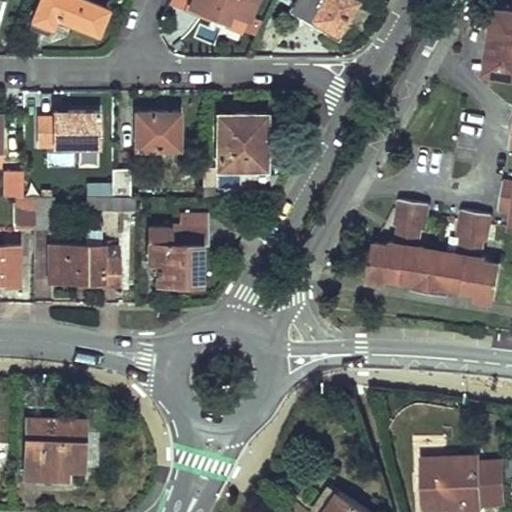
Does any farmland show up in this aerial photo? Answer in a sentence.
No, farmland can't be seen anywhere here.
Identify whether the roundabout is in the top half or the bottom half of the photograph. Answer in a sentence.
It is in the bottom half that the roundabout appears.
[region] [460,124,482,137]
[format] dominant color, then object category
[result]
white vehicle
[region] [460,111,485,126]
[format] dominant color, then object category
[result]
white vehicle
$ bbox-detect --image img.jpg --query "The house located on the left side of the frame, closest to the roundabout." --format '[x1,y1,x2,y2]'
[148,212,210,294]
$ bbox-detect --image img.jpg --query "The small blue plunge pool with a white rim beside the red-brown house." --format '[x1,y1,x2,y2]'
[194,24,218,45]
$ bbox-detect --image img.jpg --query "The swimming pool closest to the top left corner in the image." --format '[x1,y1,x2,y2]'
[79,153,100,168]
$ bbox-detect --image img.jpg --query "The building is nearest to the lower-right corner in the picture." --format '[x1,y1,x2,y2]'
[420,456,505,512]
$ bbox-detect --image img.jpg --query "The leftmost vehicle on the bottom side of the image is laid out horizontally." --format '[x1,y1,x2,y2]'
[74,352,104,366]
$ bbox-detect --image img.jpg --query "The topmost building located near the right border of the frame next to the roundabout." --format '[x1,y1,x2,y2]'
[366,243,501,311]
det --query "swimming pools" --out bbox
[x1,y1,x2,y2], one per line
[219,178,240,189]
[194,24,218,45]
[79,153,100,168]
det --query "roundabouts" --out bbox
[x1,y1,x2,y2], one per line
[146,294,304,457]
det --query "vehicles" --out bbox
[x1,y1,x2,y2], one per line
[280,200,294,219]
[201,412,223,423]
[74,352,104,366]
[460,111,485,126]
[8,130,18,153]
[126,10,138,30]
[344,356,365,366]
[469,26,480,44]
[189,74,212,84]
[250,74,272,84]
[430,151,442,174]
[40,96,50,114]
[6,74,26,84]
[330,136,344,148]
[126,367,147,382]
[161,73,181,83]
[496,150,507,170]
[121,122,132,148]
[417,149,428,172]
[460,124,482,137]
[192,333,216,344]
